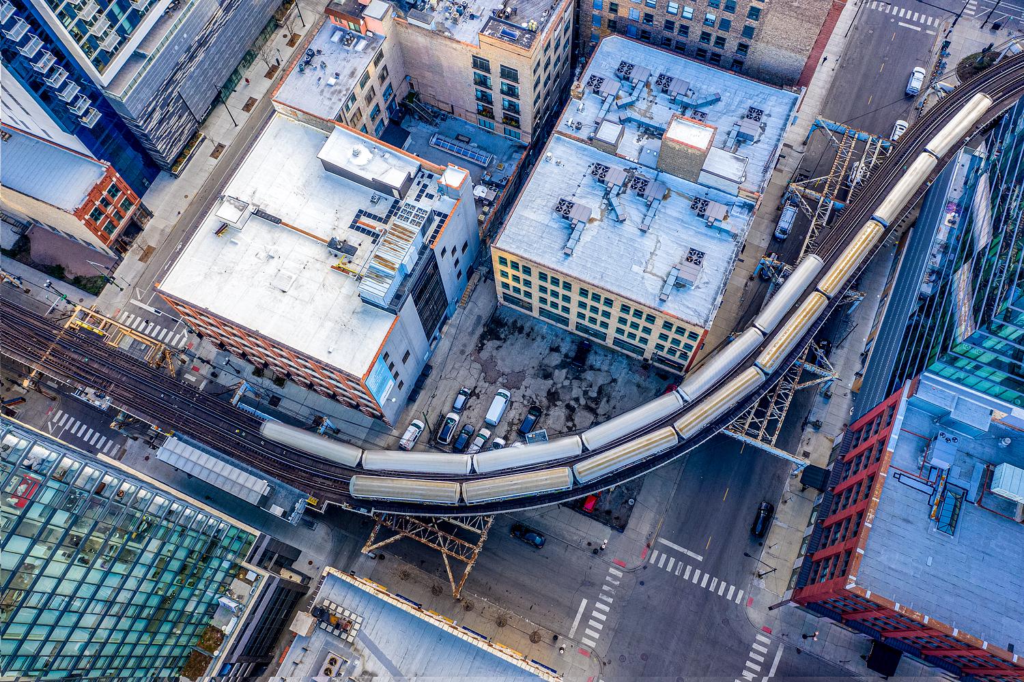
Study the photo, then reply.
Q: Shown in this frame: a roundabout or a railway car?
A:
railway car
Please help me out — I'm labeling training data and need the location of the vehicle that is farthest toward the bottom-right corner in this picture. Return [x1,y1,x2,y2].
[751,502,773,537]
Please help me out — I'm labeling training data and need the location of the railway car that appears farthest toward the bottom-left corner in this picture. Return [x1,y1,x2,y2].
[266,421,366,472]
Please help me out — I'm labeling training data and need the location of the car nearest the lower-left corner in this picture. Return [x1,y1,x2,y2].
[399,419,423,451]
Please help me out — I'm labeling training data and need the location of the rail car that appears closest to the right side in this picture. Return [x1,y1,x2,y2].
[919,101,991,170]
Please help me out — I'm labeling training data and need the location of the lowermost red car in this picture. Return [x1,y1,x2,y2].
[580,490,600,518]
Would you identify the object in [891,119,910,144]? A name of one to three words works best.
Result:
car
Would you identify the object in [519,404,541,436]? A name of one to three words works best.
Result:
car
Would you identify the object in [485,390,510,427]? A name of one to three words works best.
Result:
vehicle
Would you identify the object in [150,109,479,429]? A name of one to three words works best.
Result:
building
